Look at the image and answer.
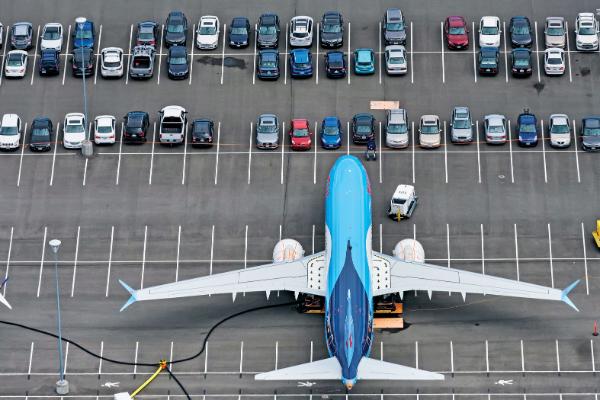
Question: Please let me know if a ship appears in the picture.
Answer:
No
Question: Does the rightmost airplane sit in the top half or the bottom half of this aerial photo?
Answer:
bottom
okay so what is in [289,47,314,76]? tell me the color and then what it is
blue car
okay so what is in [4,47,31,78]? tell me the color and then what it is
white car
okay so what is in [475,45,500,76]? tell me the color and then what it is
blue car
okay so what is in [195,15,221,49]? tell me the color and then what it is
white car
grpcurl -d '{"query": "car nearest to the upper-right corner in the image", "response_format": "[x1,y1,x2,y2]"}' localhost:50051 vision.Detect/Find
[574,12,600,49]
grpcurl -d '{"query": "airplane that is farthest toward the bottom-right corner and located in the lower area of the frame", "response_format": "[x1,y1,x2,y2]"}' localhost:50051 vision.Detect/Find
[119,155,579,392]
